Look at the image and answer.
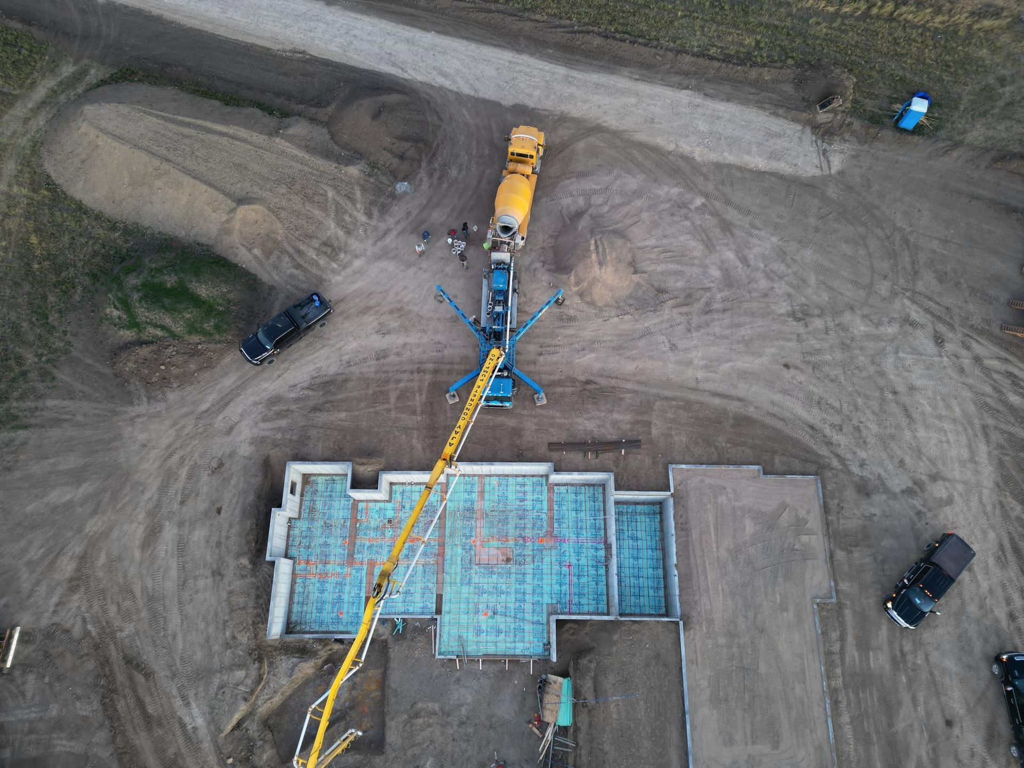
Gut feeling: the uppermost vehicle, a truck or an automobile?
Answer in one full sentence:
From above, the uppermost vehicle can be identified as a truck.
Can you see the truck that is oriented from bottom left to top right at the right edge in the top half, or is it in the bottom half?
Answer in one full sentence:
The truck that is oriented from bottom left to top right at the right edge sits in the bottom half of the picture.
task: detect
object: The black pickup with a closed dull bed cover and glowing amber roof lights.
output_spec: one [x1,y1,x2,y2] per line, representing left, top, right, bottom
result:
[877,531,974,632]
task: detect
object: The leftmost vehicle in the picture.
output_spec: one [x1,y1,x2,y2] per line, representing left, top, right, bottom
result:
[243,291,340,369]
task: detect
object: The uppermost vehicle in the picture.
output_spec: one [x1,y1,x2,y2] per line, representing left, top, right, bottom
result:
[488,129,547,255]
